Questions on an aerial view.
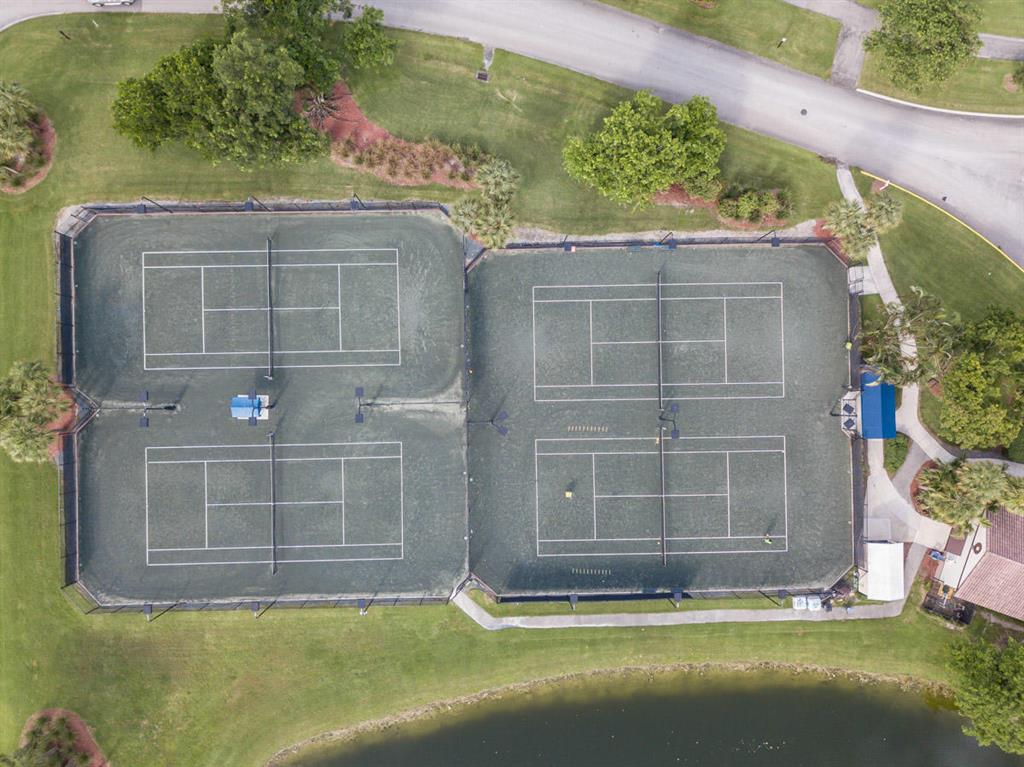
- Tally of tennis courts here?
4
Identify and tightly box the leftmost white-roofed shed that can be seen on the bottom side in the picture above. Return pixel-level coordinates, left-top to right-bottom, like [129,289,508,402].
[860,539,904,599]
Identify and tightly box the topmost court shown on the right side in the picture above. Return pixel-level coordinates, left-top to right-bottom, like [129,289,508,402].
[467,243,851,419]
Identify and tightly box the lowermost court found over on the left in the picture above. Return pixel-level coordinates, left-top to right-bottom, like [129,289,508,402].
[75,405,469,606]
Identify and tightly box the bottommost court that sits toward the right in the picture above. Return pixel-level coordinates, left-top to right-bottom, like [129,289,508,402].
[468,414,853,596]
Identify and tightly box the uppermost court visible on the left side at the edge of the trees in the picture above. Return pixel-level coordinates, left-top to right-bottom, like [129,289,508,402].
[72,209,467,409]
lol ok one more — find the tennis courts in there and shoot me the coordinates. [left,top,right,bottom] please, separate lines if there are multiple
[468,414,853,596]
[467,243,851,419]
[75,405,469,606]
[72,209,467,409]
